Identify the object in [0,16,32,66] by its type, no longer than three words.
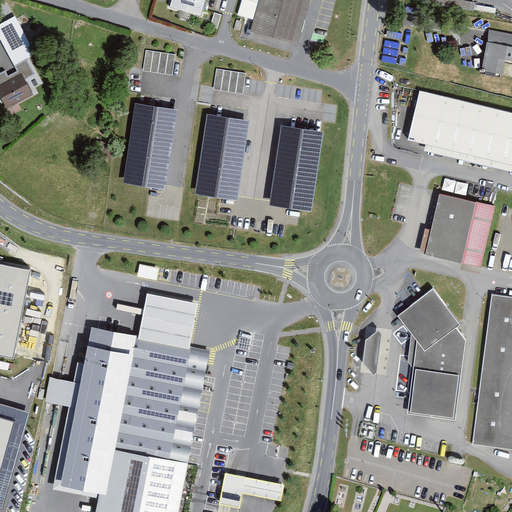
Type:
house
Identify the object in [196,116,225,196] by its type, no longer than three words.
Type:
solar array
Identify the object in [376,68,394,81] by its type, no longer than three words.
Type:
vehicle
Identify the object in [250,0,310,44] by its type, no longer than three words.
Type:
building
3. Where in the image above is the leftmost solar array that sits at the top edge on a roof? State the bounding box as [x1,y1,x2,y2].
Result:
[2,24,22,50]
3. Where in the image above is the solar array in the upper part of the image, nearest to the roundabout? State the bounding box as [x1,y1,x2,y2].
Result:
[270,126,299,206]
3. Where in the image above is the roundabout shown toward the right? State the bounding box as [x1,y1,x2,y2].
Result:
[307,244,374,310]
